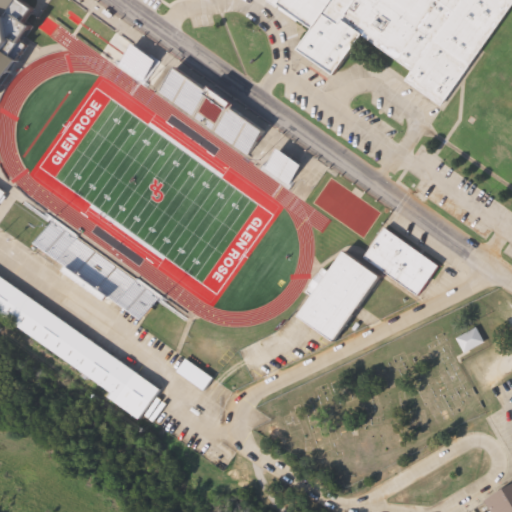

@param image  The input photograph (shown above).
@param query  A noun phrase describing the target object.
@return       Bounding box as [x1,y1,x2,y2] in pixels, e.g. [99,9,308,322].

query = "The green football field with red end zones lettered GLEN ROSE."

[15,72,299,310]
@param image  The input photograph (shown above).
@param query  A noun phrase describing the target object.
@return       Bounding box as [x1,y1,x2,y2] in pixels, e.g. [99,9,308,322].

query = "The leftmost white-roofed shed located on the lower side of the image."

[0,277,161,419]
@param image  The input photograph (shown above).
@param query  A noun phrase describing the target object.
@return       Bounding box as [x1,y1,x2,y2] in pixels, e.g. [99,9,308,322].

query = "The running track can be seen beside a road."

[0,16,331,327]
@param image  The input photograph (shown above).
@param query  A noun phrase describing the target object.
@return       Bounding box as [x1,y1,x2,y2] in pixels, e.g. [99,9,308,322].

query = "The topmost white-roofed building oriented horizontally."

[274,0,512,106]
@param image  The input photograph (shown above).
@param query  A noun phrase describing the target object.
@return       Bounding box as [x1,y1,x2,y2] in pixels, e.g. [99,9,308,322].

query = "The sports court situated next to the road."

[312,177,383,240]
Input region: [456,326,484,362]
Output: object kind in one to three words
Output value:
house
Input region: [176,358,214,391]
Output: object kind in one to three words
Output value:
building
